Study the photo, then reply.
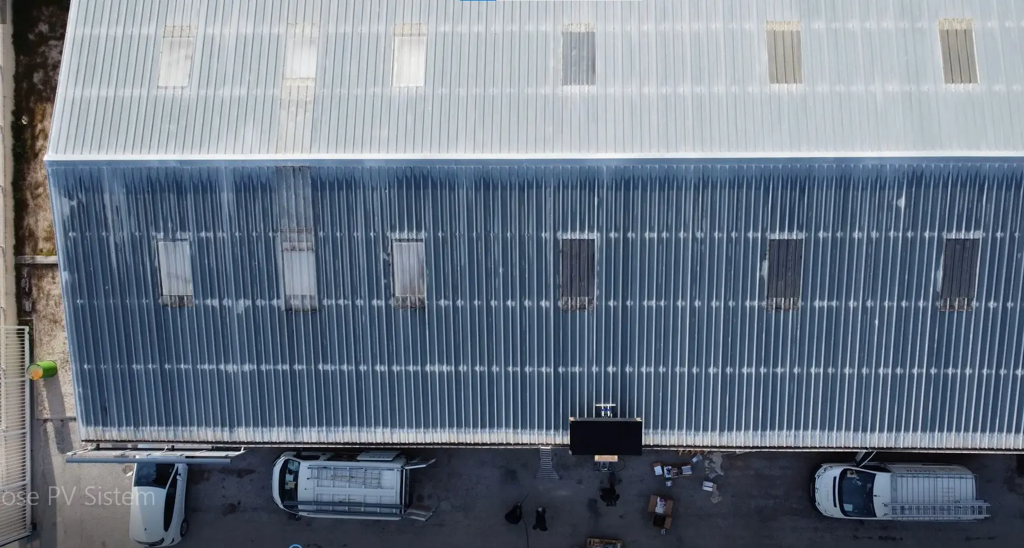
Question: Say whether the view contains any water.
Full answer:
No, the picture contains no water.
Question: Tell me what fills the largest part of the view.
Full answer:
The largest share of the image is taken up by buildings.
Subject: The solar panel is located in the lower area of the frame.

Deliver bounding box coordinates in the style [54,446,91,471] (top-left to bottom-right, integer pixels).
[570,417,642,456]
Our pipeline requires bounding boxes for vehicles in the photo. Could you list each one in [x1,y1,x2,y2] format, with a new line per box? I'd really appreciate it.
[127,448,194,548]
[270,450,431,523]
[811,451,981,527]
